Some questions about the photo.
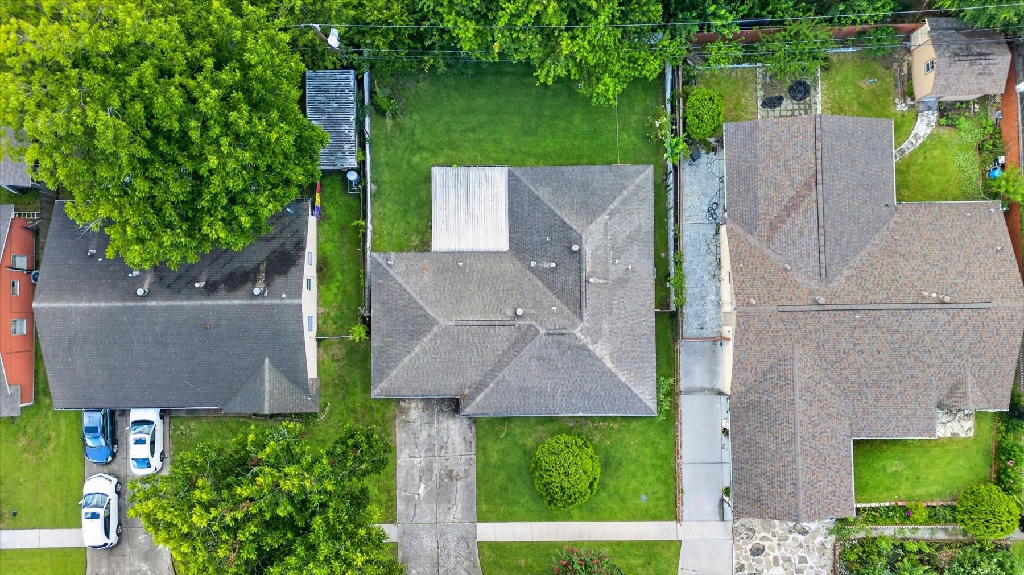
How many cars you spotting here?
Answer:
3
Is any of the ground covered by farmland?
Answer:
No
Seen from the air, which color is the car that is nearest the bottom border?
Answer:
white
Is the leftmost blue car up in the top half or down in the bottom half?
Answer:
bottom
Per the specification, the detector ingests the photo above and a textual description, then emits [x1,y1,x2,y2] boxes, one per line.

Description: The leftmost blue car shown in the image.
[78,411,121,465]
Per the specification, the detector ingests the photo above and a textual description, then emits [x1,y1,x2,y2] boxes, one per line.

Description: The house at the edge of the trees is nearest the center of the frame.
[370,164,656,418]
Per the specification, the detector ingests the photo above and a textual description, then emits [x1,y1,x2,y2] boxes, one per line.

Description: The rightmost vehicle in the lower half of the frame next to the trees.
[123,411,165,476]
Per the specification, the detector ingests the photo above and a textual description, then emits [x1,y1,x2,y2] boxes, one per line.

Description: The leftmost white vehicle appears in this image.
[77,473,120,551]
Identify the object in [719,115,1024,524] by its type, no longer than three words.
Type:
house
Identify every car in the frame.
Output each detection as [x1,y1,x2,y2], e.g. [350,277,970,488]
[123,411,165,476]
[78,411,121,465]
[77,473,120,551]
